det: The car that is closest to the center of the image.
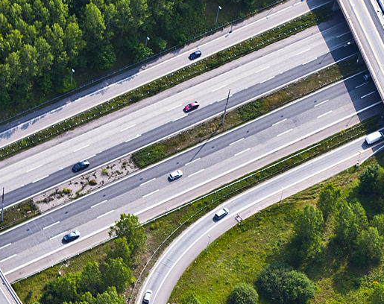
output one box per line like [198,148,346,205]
[167,170,185,182]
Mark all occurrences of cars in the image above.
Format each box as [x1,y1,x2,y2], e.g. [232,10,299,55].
[184,102,200,113]
[167,170,185,182]
[72,160,90,173]
[62,232,81,243]
[213,209,230,222]
[143,291,152,304]
[187,49,205,61]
